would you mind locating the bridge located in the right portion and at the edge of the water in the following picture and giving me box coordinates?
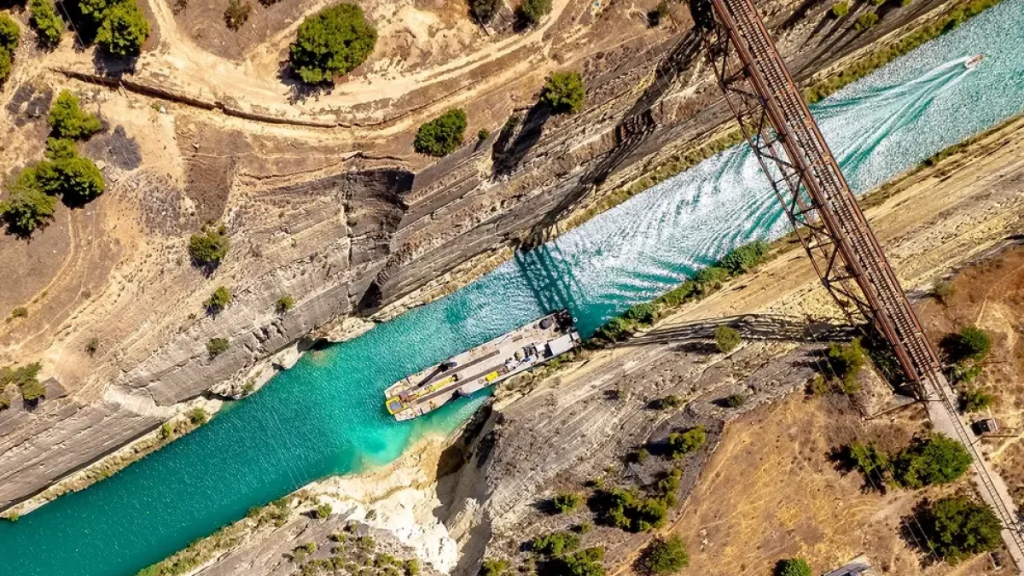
[683,0,946,400]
